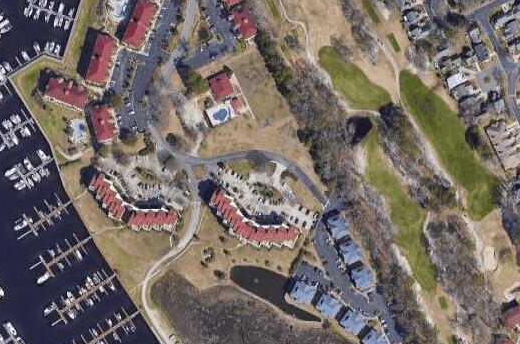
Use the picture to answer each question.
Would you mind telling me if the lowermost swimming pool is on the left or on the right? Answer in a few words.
left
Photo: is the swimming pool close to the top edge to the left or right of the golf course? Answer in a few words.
to the left of it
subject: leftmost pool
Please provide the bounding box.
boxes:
[68,118,90,146]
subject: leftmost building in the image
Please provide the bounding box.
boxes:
[43,78,92,112]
